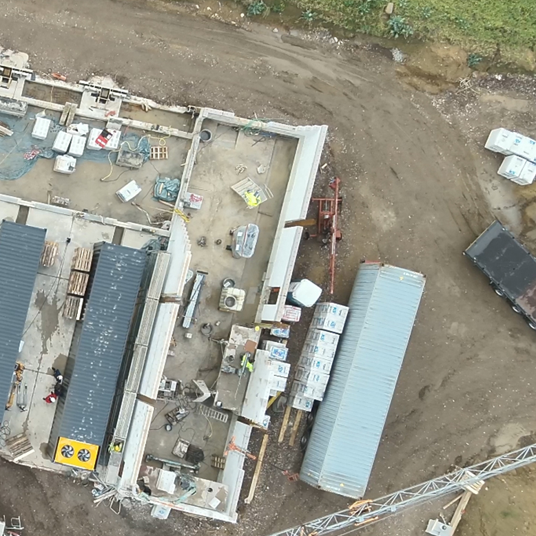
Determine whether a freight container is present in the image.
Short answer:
Yes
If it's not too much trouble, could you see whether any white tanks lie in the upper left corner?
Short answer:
No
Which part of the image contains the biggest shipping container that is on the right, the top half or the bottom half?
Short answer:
bottom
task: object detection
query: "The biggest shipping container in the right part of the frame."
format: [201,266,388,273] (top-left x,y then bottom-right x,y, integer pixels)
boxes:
[302,266,422,496]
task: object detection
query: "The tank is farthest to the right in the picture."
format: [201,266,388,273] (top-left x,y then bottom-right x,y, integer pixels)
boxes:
[285,279,322,308]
